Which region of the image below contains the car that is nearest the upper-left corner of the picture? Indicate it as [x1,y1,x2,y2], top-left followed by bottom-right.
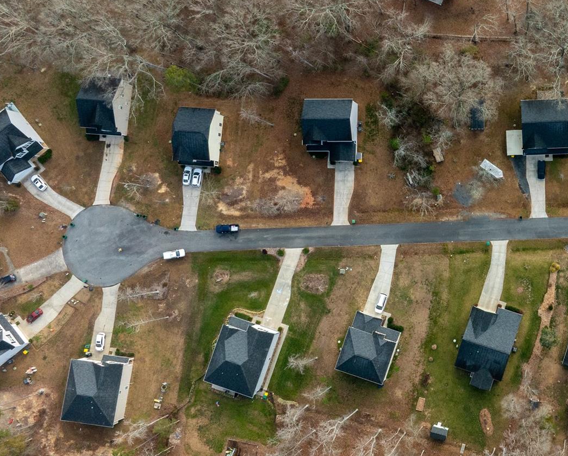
[29,174,46,192]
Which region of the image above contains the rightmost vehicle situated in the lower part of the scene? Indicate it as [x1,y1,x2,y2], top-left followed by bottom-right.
[374,293,387,315]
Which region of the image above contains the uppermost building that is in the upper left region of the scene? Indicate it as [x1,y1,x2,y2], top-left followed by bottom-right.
[72,77,131,136]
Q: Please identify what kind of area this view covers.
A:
residential area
